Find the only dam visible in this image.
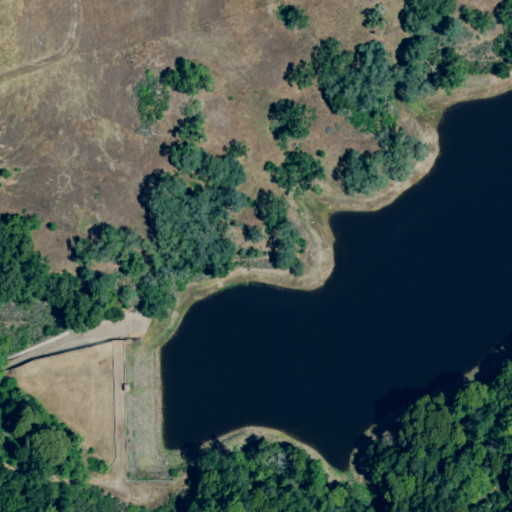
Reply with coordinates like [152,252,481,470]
[8,340,173,482]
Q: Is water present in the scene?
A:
Yes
